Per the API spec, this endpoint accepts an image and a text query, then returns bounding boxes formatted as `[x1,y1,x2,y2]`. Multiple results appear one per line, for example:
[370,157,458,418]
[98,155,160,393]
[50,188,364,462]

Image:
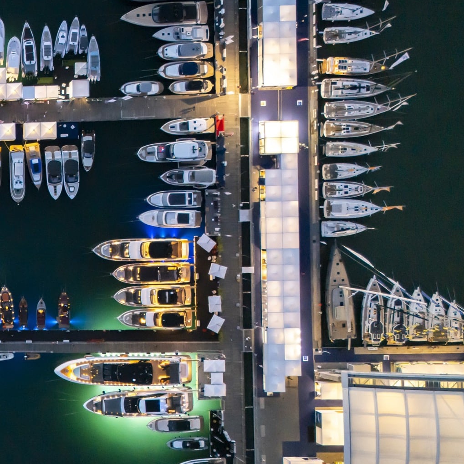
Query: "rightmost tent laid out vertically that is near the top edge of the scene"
[256,0,297,89]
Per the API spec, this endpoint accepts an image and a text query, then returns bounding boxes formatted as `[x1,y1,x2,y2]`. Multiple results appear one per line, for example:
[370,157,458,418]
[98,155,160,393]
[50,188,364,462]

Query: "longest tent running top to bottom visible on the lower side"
[258,201,301,393]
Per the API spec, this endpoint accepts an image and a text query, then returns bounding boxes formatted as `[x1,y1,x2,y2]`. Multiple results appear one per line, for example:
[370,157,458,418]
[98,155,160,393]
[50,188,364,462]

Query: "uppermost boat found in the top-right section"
[319,0,381,21]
